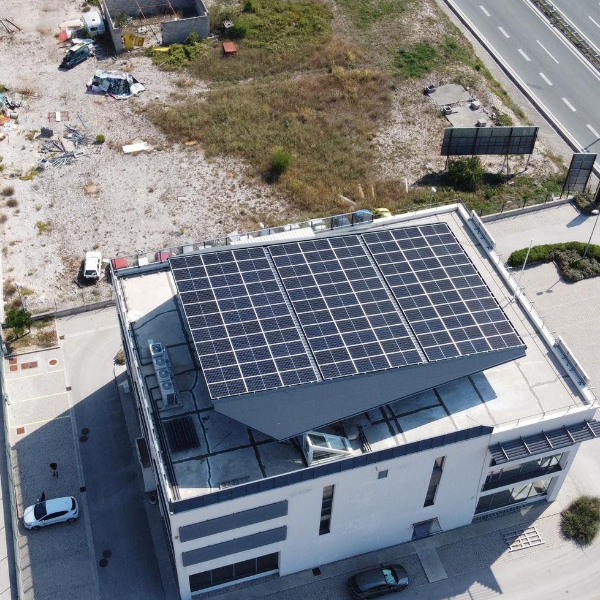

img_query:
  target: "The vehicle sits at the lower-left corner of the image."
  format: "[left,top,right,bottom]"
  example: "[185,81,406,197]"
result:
[24,490,79,529]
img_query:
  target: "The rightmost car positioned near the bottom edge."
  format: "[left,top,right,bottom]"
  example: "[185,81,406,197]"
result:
[346,562,411,600]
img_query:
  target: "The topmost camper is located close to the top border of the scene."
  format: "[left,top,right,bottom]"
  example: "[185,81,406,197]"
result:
[80,10,108,37]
